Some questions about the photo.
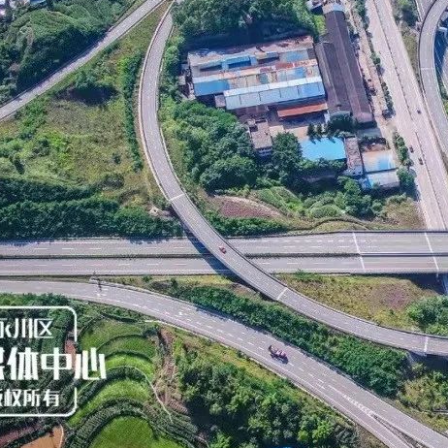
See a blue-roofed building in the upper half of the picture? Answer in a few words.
Yes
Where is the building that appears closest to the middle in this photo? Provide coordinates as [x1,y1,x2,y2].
[248,125,273,161]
